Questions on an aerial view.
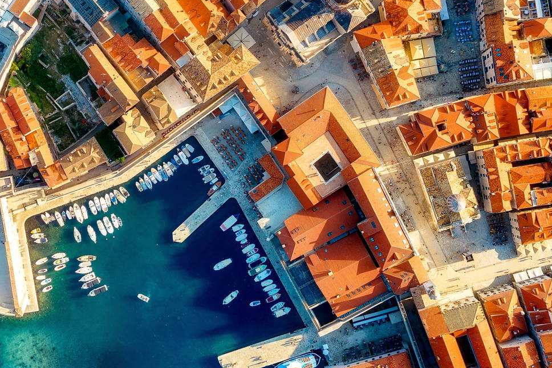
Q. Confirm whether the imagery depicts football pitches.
No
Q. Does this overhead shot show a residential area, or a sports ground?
residential area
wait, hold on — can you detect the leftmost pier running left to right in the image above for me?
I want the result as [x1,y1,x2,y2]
[217,327,310,368]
